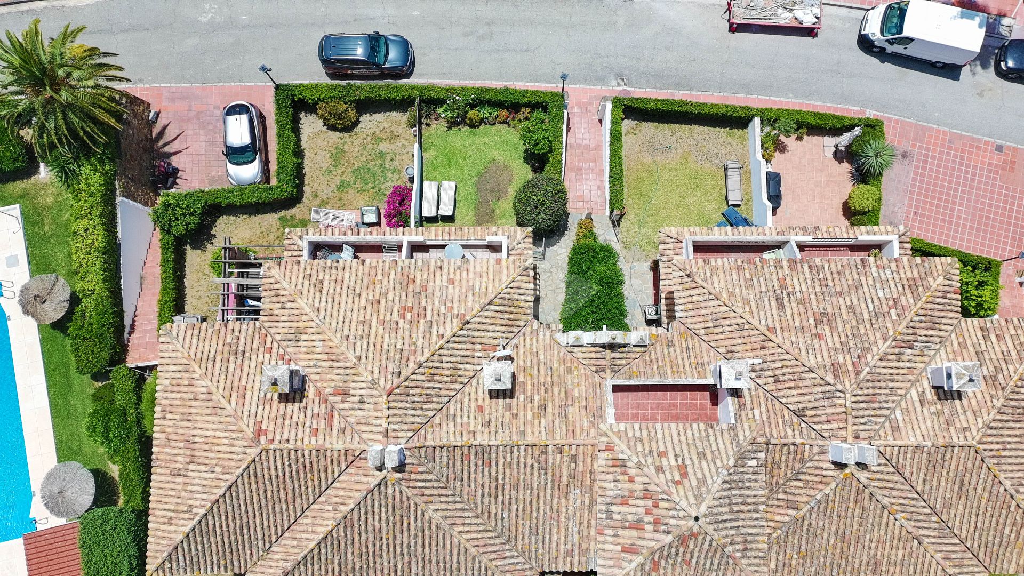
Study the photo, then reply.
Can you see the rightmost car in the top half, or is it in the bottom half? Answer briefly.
top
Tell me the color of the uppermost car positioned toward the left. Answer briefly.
blue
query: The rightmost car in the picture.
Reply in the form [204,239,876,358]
[991,44,1024,89]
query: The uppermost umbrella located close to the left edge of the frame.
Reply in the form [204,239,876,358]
[18,272,74,327]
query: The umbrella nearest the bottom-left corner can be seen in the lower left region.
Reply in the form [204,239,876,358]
[35,461,94,522]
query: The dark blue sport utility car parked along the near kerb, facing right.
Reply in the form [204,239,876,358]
[317,30,415,81]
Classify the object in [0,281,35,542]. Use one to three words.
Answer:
swimming pool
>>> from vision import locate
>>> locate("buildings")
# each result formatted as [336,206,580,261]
[657,225,1024,576]
[139,226,607,576]
[21,518,87,576]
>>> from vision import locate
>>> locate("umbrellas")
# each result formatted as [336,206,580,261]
[35,461,94,522]
[18,272,74,327]
[823,118,871,158]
